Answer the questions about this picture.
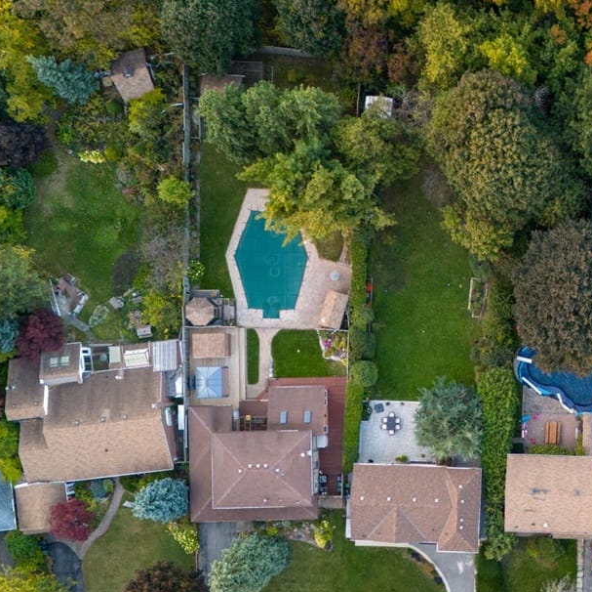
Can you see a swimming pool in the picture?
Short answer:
Yes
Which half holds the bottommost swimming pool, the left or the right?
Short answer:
right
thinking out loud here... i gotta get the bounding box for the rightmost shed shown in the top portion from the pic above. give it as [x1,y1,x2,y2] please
[365,96,393,121]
